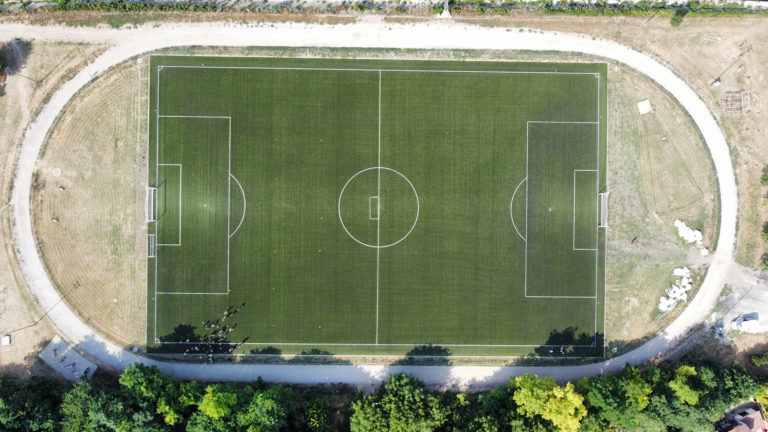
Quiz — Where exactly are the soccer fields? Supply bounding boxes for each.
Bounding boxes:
[146,55,608,358]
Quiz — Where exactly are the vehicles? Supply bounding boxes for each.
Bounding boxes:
[729,320,760,333]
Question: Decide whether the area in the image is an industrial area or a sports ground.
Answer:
sports ground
